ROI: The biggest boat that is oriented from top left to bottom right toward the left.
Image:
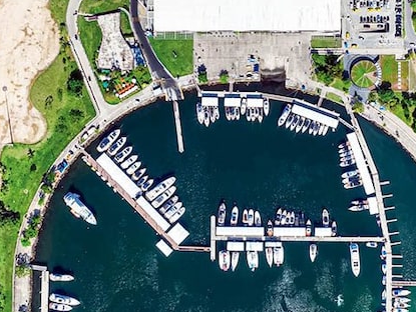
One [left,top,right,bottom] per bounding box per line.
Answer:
[61,192,96,224]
